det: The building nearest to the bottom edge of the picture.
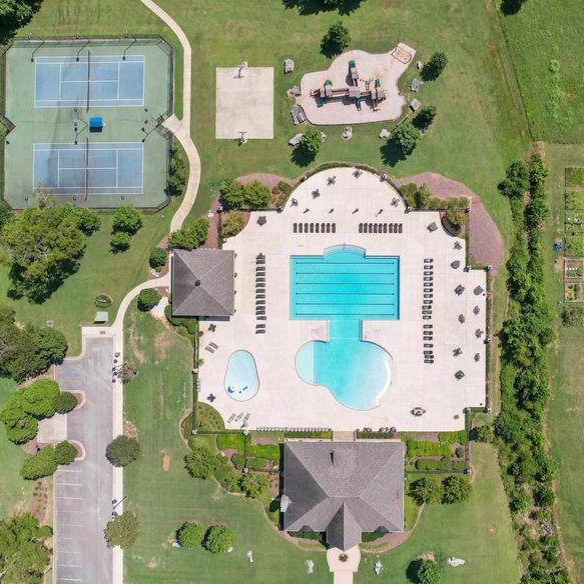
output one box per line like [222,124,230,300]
[279,441,404,551]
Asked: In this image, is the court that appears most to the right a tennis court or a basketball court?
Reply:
basketball court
